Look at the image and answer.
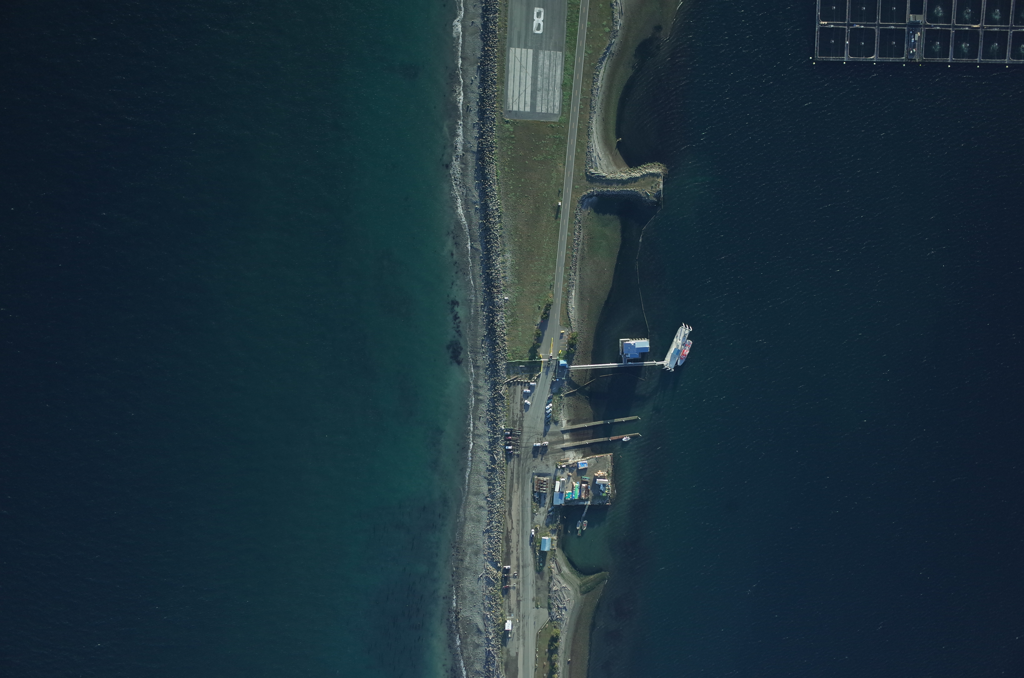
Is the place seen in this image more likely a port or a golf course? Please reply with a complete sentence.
This looks like a port.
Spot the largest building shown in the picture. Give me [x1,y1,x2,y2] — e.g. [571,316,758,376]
[620,338,650,364]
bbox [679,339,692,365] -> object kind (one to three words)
boat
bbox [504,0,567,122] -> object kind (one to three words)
runway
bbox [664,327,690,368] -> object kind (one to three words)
ship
